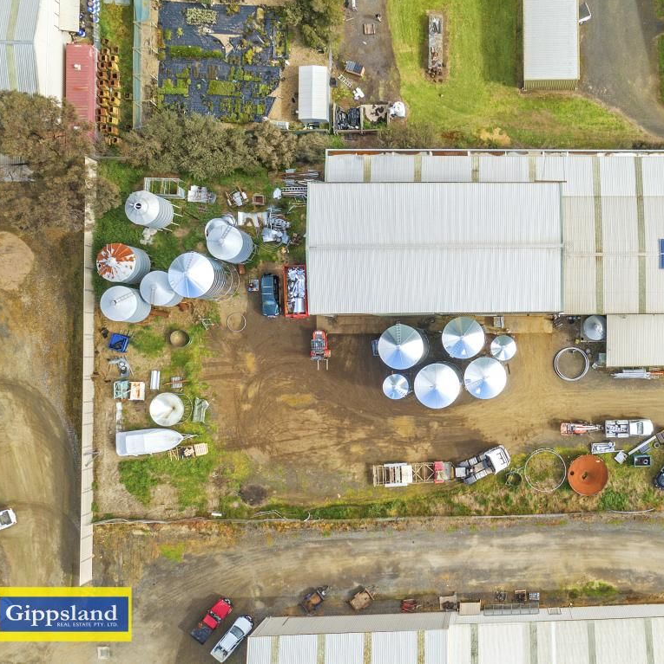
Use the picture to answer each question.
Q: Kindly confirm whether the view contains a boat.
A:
Yes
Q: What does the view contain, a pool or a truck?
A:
truck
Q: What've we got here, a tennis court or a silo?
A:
silo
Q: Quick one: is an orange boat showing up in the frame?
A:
No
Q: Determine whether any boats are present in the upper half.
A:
No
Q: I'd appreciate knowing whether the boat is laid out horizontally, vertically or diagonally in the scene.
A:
horizontally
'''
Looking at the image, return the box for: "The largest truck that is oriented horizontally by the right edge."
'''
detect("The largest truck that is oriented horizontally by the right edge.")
[605,417,655,439]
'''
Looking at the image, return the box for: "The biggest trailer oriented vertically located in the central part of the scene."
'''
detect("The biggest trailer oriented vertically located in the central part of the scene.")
[282,264,308,318]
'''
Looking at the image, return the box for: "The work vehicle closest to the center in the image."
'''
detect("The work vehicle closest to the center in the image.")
[312,331,330,364]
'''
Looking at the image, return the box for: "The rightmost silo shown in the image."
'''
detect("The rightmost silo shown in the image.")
[581,315,605,340]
